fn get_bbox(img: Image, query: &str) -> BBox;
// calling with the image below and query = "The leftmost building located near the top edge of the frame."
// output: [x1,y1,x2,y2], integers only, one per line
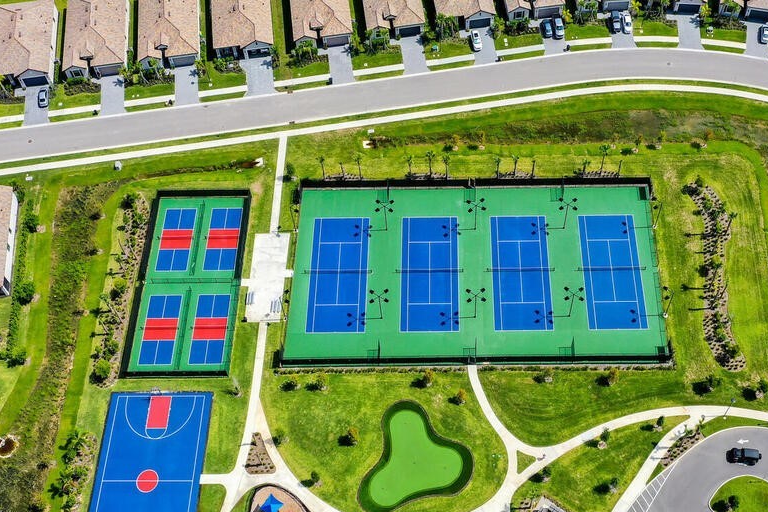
[0,0,57,85]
